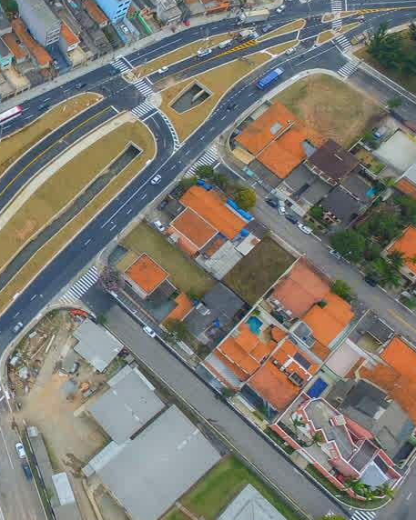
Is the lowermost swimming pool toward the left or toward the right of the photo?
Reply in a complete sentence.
The lowermost swimming pool appears in the right half of the scene.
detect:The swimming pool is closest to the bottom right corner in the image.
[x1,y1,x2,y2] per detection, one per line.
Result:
[304,376,331,400]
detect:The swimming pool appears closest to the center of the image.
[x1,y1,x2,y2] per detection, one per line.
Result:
[244,314,263,332]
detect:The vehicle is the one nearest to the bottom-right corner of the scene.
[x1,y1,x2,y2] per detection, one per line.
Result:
[362,276,377,289]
